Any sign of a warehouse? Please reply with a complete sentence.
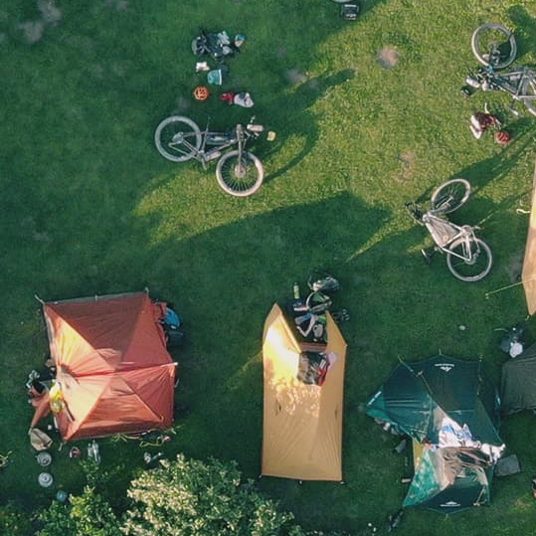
No, I find no warehouse anywhere in the image.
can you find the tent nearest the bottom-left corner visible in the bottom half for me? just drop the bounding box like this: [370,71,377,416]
[29,291,179,450]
